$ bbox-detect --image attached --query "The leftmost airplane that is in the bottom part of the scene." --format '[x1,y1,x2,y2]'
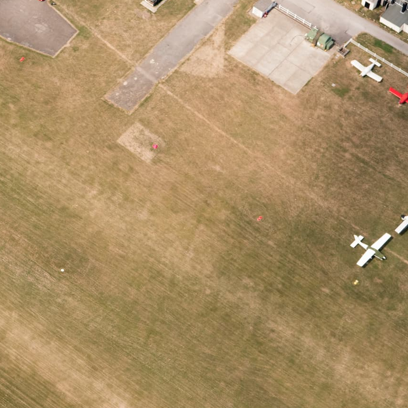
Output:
[351,233,392,268]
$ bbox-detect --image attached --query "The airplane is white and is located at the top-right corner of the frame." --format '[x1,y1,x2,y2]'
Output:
[350,54,386,82]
